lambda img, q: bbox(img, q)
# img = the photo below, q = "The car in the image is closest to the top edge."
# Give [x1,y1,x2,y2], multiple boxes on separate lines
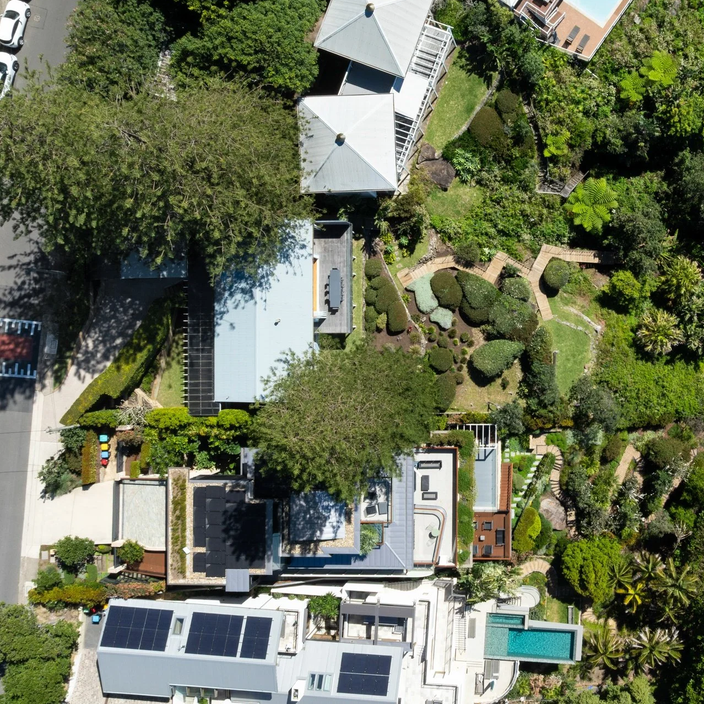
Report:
[0,0,34,48]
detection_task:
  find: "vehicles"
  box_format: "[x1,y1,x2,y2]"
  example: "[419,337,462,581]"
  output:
[0,0,34,48]
[0,52,21,91]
